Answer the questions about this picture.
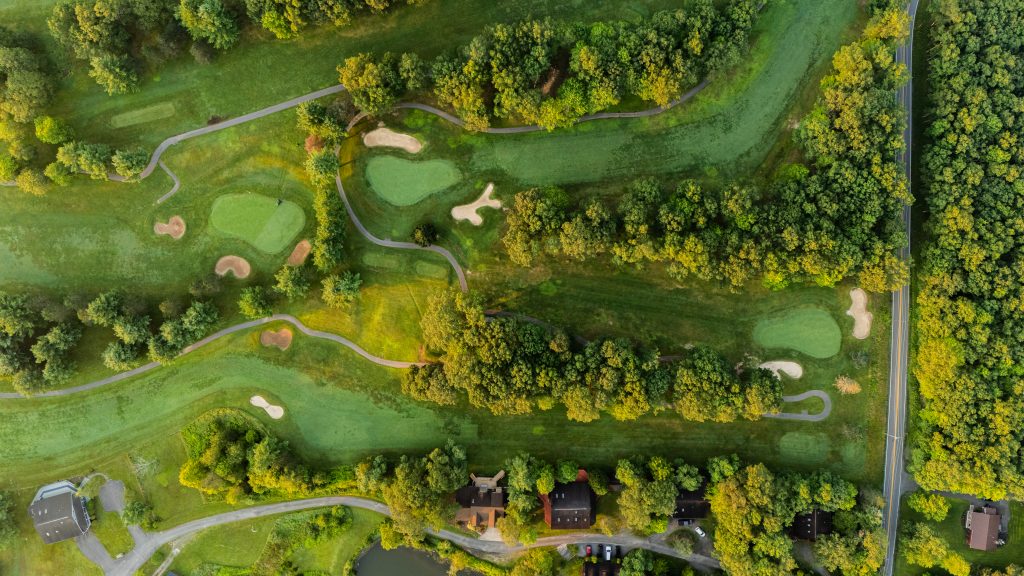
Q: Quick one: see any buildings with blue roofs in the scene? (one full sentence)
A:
No, there isn't any building with a blue roof down there.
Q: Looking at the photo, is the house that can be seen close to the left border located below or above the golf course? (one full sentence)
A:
It's below the golf course that the house that can be seen close to the left border shows up.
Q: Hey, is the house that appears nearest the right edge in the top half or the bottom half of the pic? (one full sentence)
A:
You can find the house that appears nearest the right edge in the bottom half.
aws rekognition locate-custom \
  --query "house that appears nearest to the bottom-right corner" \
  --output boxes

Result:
[963,504,1000,552]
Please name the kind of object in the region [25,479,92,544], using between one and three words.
house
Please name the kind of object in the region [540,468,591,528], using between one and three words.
house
